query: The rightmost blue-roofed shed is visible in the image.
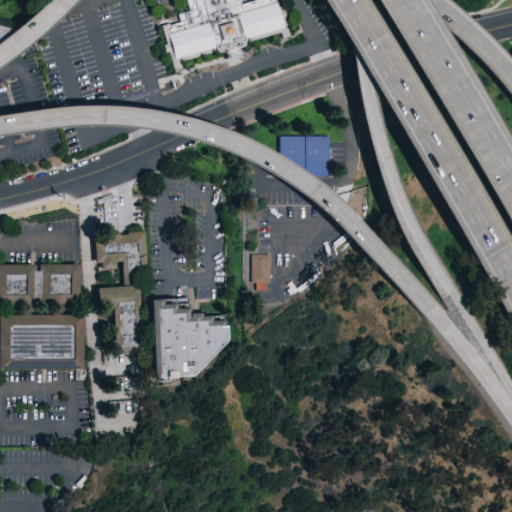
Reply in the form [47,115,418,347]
[306,136,330,176]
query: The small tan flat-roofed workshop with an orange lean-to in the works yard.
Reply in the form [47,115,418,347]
[250,253,273,292]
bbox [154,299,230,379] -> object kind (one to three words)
building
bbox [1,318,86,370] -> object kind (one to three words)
building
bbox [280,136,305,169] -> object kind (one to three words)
shed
